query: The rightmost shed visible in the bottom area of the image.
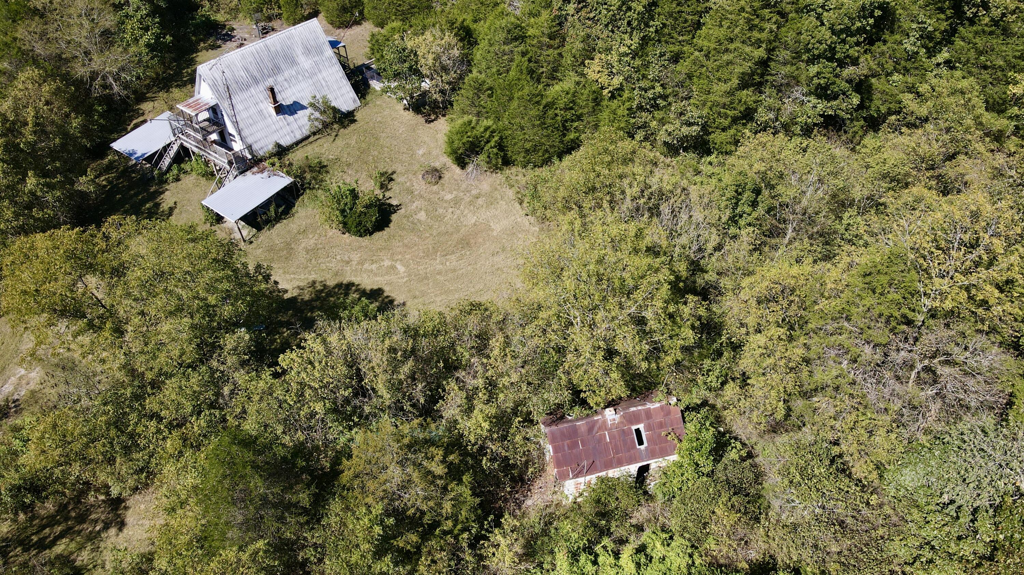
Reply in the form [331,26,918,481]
[537,401,685,500]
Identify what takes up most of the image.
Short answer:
trees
